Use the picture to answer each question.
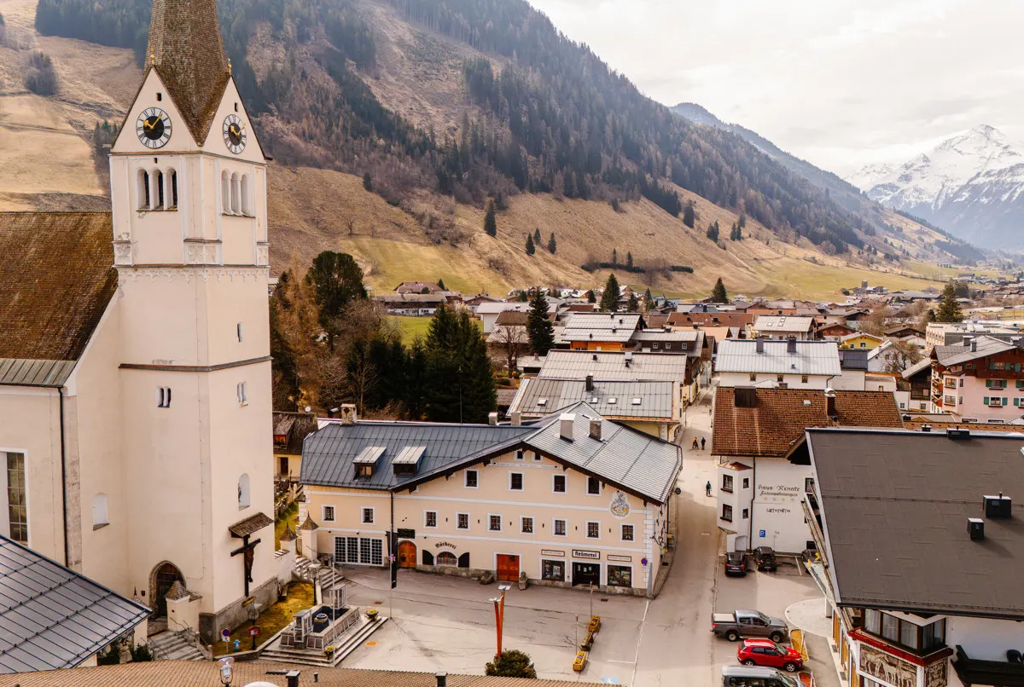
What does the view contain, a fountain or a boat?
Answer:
fountain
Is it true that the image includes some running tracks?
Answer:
No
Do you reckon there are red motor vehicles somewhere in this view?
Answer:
Yes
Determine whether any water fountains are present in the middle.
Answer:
No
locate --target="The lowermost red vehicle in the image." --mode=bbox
[737,635,804,673]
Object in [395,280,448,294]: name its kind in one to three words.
house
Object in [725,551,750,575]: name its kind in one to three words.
car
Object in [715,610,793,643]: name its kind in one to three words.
truck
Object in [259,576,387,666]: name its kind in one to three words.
fountain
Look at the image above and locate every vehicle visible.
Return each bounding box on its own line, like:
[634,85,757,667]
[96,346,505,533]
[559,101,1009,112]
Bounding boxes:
[717,668,784,687]
[754,547,778,571]
[737,635,804,673]
[725,551,750,575]
[715,610,793,643]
